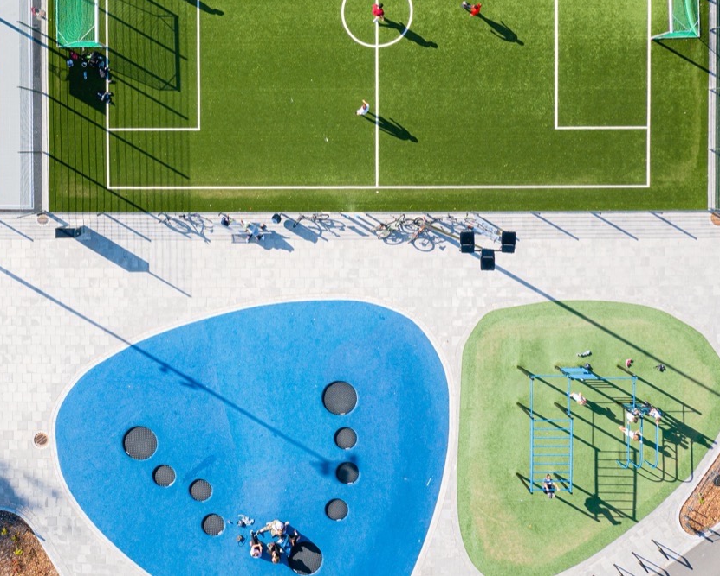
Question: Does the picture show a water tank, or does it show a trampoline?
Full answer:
This aerial view contains a trampoline.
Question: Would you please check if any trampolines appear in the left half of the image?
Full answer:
Yes, a trampoline can be seen in the left half of the image.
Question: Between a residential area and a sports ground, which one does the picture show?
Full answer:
What you see here is a sports ground.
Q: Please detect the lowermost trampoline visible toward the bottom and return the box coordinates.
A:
[287,539,323,576]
